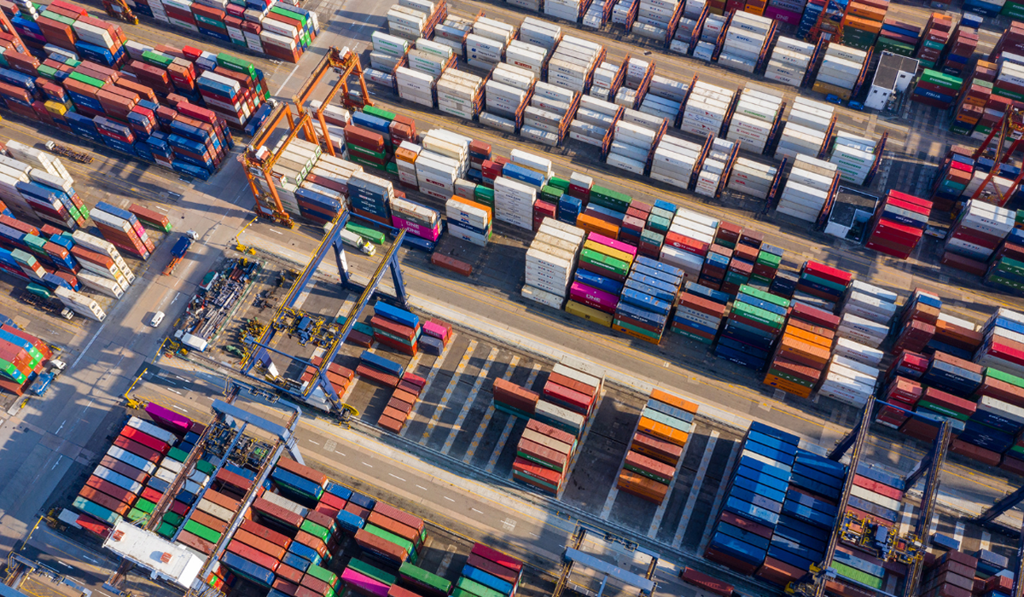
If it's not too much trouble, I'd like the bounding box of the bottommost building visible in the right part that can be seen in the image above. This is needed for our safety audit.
[825,184,881,245]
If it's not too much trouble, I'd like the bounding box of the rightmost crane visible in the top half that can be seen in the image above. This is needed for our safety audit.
[943,111,1024,247]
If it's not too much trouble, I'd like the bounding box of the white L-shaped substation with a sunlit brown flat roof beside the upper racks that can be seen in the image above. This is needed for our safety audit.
[864,50,921,116]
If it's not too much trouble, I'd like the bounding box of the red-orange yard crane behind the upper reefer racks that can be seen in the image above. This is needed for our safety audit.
[800,0,859,47]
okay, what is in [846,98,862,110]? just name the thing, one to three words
vehicle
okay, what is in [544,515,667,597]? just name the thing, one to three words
container crane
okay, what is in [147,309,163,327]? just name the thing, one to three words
vehicle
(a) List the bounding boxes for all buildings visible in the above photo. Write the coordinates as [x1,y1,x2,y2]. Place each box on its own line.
[864,50,921,116]
[825,184,881,245]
